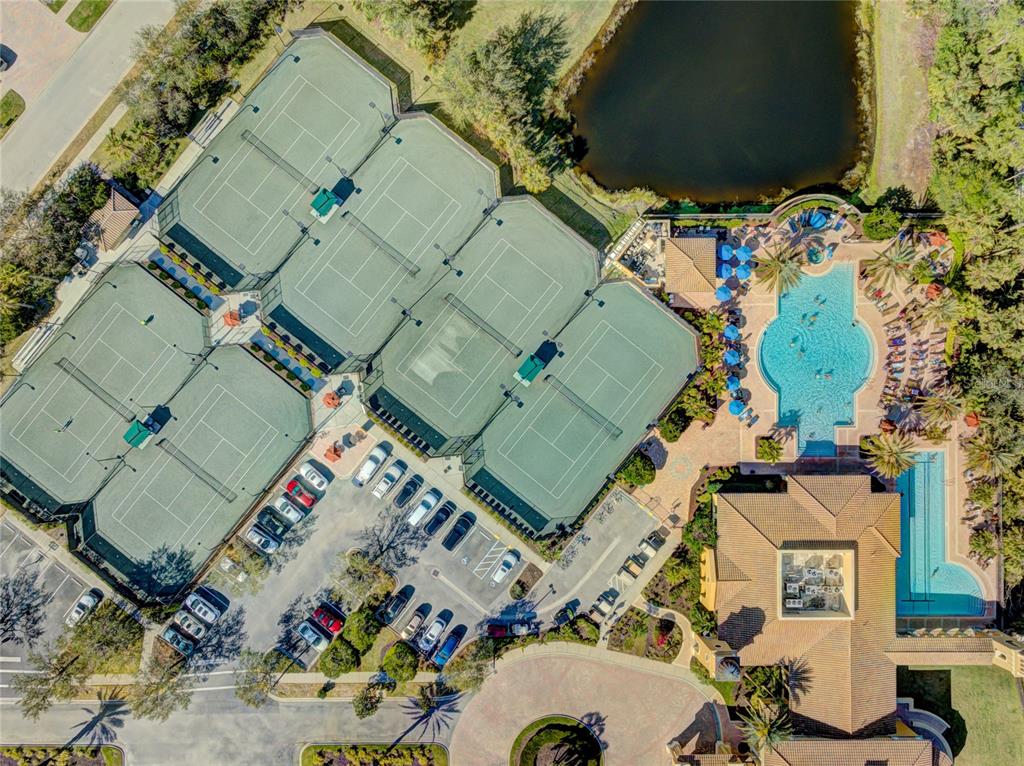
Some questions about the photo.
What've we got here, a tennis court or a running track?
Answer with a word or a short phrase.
tennis court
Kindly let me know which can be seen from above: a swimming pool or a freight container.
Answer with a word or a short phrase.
swimming pool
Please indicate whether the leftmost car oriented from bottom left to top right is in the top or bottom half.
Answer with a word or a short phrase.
bottom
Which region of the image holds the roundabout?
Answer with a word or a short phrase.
bottom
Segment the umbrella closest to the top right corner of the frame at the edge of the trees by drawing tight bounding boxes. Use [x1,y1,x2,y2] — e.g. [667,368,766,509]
[927,231,945,248]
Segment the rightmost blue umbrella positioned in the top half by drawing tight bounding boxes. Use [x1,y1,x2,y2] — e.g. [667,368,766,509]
[806,210,826,229]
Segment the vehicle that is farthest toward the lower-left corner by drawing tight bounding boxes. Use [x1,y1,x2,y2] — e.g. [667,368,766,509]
[65,594,94,626]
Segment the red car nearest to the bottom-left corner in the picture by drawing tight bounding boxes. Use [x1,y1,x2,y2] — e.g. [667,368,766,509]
[309,607,342,636]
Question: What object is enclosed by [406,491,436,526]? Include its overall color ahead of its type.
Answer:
white car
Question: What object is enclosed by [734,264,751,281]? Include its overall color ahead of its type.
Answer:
blue umbrella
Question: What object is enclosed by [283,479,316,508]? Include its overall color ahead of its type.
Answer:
red car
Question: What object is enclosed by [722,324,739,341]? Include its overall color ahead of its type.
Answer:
blue umbrella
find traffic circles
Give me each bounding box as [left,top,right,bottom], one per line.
[449,653,719,766]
